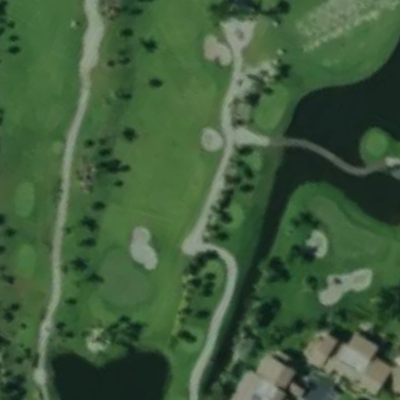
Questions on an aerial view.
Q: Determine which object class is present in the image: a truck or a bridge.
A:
bridge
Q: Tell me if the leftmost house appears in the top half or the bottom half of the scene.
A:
bottom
